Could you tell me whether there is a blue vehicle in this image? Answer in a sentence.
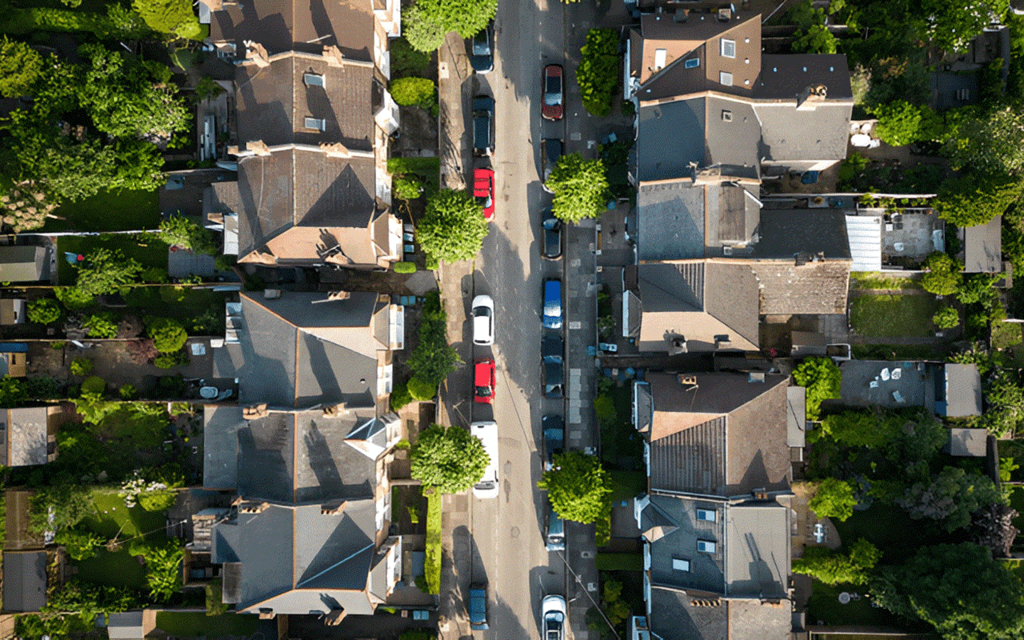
Yes, there's a blue vehicle down there.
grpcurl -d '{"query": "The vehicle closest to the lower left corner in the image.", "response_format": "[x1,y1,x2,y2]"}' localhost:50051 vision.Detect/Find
[466,581,492,629]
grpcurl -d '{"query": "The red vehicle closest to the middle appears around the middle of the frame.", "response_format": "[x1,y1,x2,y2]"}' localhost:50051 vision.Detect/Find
[471,359,498,403]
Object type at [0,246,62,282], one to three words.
shed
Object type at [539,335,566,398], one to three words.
car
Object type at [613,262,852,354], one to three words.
house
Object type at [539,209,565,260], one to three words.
car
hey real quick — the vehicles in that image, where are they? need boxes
[472,170,497,221]
[540,592,567,640]
[470,99,497,159]
[542,499,568,549]
[470,420,499,496]
[466,581,492,629]
[468,19,495,76]
[471,359,498,403]
[540,279,566,329]
[539,66,567,122]
[539,209,565,260]
[470,296,496,345]
[538,139,563,193]
[539,335,566,398]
